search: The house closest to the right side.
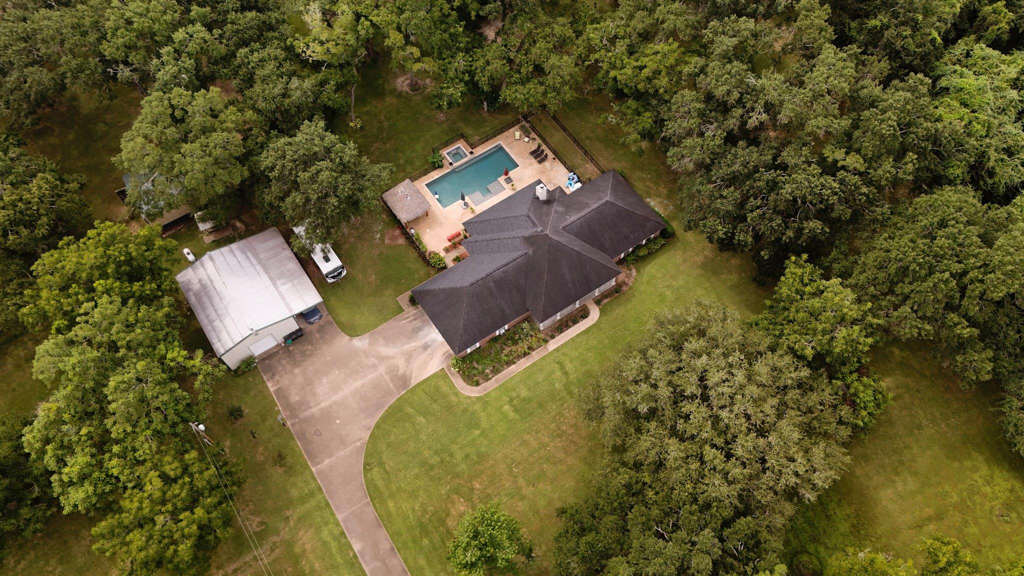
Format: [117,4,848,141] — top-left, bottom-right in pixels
[411,169,667,358]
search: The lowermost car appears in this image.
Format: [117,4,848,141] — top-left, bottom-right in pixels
[300,305,323,325]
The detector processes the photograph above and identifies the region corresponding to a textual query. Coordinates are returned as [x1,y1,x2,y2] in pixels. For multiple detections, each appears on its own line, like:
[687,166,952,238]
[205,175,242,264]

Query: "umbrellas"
[503,168,512,183]
[460,194,469,209]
